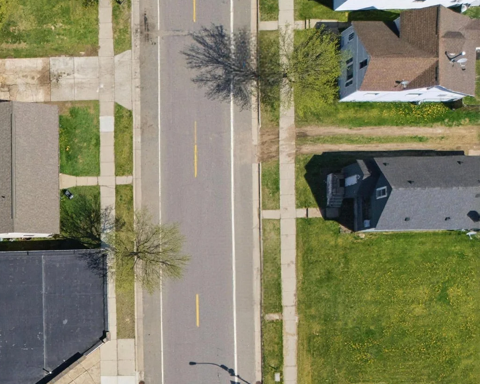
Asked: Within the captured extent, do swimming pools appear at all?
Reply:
No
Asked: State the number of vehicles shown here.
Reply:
0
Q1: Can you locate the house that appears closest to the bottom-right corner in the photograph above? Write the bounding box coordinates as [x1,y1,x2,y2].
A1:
[329,156,480,232]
